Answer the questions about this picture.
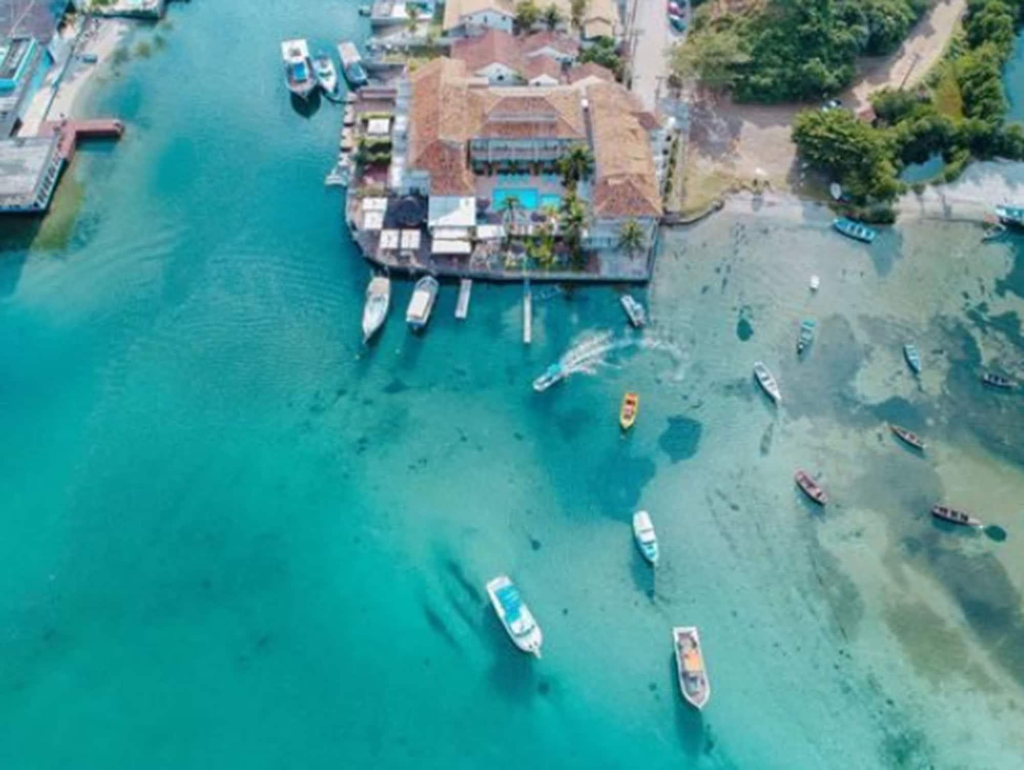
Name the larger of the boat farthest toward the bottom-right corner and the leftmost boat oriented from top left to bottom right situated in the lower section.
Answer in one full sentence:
Compared with the boat farthest toward the bottom-right corner, the leftmost boat oriented from top left to bottom right situated in the lower section is the larger one.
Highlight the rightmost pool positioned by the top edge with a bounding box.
[407,2,432,20]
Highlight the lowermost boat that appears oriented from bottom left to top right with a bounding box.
[534,360,571,390]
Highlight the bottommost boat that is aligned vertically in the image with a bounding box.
[672,627,710,708]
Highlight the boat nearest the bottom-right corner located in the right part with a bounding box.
[929,502,989,531]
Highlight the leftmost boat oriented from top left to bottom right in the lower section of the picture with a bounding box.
[483,579,541,660]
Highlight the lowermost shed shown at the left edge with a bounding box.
[0,135,74,225]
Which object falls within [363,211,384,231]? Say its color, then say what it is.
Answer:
white umbrella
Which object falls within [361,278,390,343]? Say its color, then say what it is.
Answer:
white boat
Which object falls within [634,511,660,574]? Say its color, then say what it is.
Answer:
white boat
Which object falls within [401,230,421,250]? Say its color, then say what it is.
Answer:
white umbrella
